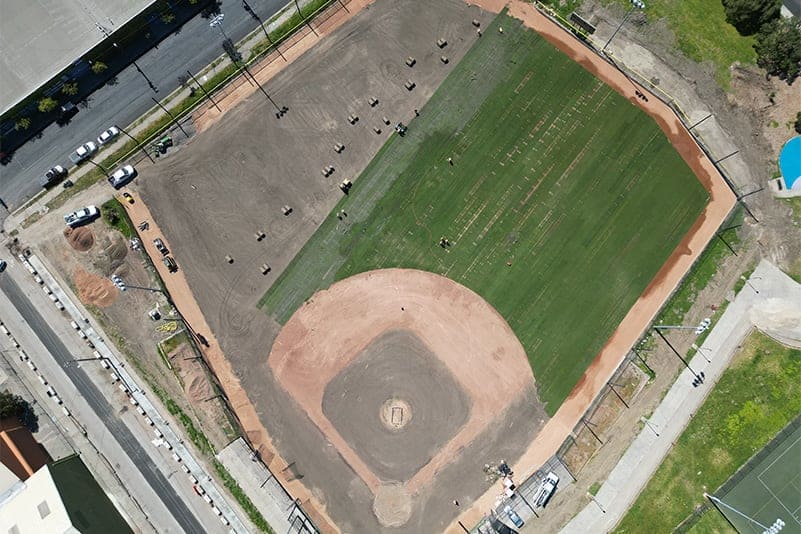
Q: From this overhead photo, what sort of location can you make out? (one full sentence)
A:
This looks like a sports ground.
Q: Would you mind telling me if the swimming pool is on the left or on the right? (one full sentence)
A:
The swimming pool is on the right side of the image.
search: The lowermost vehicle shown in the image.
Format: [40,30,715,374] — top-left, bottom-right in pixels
[505,505,526,531]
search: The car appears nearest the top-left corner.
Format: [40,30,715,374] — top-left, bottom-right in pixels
[56,99,79,115]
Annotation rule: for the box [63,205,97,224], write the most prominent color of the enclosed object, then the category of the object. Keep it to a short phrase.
white vehicle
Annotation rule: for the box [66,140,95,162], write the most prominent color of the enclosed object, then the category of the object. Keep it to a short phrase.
gray truck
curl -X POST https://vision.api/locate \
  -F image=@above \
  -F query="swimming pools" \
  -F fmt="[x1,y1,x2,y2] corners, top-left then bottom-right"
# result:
[768,135,801,202]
